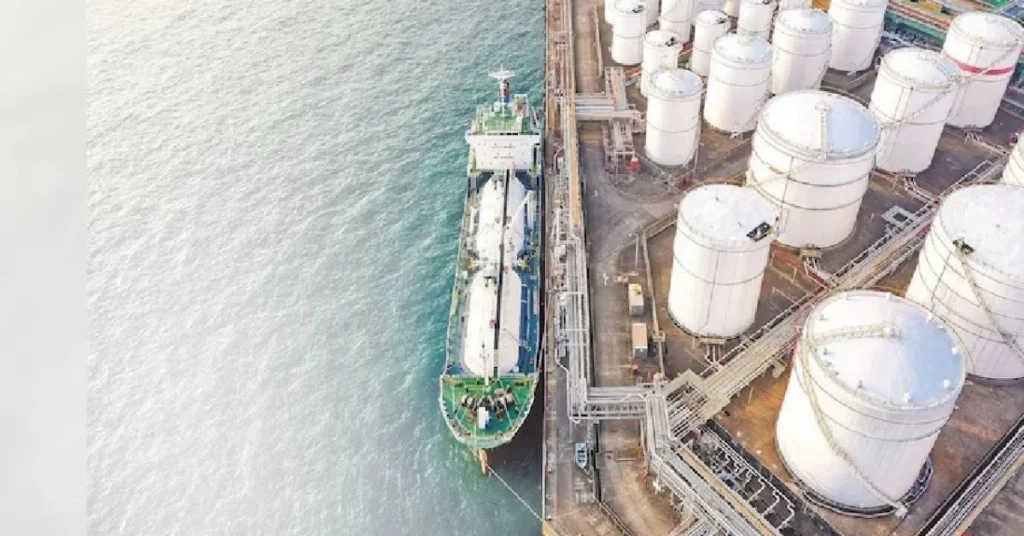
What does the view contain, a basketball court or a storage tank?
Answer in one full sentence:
Of the two, only a storage tank appears.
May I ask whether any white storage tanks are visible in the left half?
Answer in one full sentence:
No, there's no white storage tank to be seen in the left half.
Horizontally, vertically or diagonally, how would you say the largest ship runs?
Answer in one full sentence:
From this overhead view, the largest ship appears to run vertically.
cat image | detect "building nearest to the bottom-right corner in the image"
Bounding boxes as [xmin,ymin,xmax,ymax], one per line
[633,326,652,359]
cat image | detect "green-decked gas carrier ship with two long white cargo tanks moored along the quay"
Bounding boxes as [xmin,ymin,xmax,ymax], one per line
[440,65,544,474]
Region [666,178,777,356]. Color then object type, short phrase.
white storage tank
